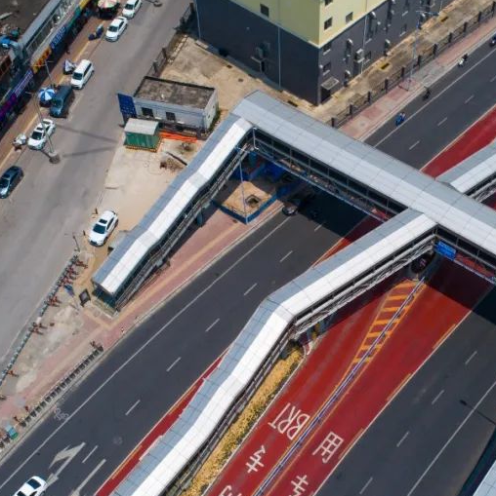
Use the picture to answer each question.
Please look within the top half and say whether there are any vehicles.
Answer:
Yes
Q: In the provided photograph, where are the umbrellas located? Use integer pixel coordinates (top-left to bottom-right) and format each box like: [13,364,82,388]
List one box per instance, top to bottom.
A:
[97,0,120,19]
[38,91,58,110]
